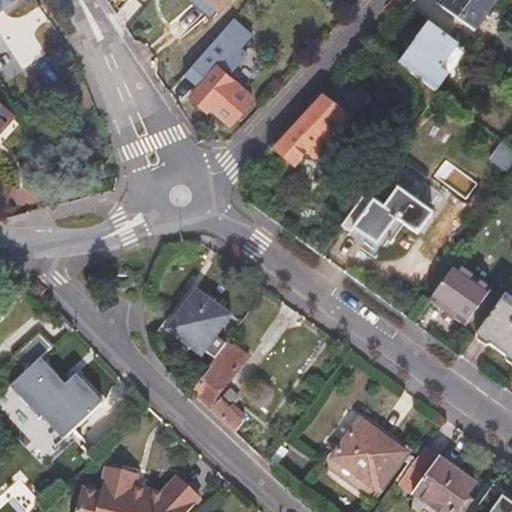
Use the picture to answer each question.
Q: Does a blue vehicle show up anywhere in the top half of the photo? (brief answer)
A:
Yes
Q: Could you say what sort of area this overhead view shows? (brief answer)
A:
residential area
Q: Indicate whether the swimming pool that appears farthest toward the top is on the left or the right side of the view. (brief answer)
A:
right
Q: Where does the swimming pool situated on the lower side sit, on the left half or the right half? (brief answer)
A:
left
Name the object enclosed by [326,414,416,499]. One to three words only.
house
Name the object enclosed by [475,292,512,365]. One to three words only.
house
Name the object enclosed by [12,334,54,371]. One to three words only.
swimming pool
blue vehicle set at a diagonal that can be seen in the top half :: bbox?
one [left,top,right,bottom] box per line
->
[39,58,58,80]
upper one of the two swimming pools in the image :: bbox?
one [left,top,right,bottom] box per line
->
[432,159,478,200]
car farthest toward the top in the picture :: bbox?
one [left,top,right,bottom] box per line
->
[178,8,200,28]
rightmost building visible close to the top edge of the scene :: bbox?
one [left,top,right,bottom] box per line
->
[436,0,502,34]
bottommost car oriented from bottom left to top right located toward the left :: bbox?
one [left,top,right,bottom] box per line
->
[174,80,196,99]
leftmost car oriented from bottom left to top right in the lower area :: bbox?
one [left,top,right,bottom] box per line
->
[383,408,402,430]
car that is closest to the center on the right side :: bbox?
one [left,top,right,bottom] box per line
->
[340,290,362,310]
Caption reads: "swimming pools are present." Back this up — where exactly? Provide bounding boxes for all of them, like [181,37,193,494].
[432,159,478,200]
[12,334,54,371]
